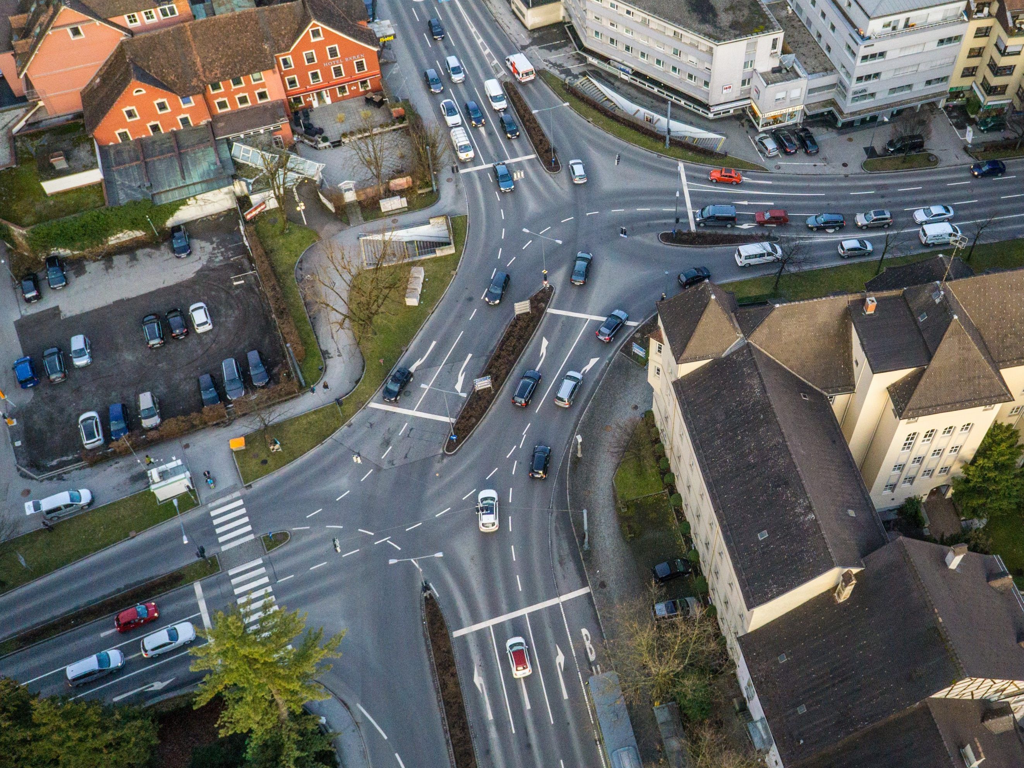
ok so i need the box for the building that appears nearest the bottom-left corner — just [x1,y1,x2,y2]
[141,446,189,501]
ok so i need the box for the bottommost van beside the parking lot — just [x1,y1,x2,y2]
[28,488,91,518]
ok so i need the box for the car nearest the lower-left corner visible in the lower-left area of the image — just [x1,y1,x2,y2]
[68,652,123,686]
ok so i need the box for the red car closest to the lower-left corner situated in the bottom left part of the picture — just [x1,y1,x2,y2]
[113,603,159,634]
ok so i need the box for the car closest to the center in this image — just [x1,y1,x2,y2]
[510,368,540,407]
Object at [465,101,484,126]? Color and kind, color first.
blue car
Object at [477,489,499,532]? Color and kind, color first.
white car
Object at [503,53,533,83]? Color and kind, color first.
white van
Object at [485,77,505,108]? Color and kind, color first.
white vehicle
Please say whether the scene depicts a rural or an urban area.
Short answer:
urban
